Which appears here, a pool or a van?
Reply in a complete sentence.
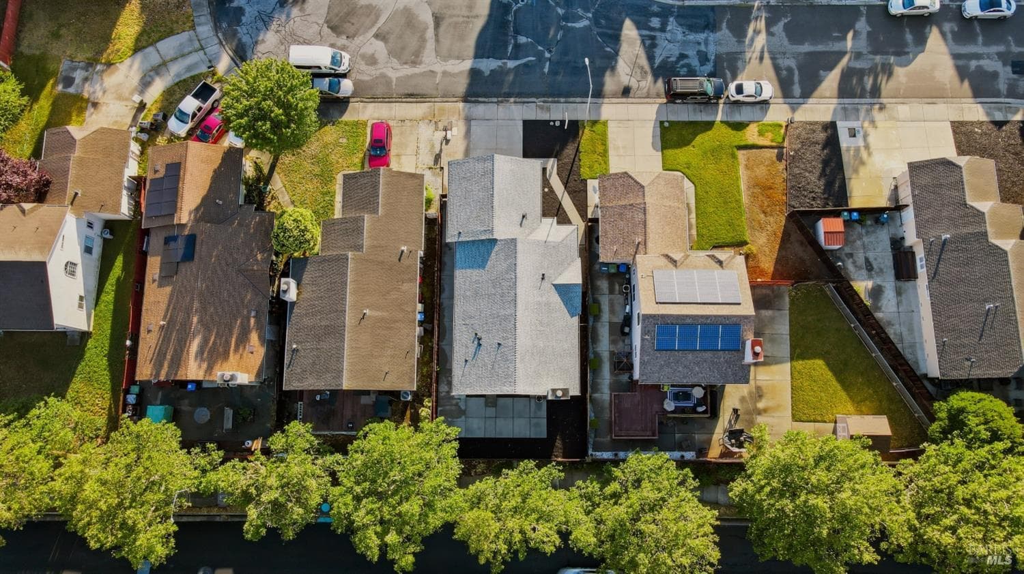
The image shows a van.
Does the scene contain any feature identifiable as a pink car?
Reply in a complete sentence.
Yes, there is a pink car in the image.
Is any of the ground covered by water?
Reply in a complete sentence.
No, there's no water in this view.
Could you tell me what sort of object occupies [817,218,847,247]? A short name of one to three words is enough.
shed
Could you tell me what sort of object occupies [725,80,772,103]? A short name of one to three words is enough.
car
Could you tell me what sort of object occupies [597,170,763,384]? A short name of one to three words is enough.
house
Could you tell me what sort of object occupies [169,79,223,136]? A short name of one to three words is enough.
truck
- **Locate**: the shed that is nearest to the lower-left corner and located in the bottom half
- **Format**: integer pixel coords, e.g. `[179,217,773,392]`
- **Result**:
[140,403,173,427]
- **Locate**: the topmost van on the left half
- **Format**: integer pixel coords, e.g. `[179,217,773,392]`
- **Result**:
[286,43,349,73]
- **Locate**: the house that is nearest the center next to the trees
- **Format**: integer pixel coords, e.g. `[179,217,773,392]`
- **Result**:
[446,154,582,400]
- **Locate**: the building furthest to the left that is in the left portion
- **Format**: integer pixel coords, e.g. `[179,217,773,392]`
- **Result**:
[0,126,141,343]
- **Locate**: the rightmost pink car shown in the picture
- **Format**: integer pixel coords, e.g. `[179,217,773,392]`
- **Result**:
[368,123,390,165]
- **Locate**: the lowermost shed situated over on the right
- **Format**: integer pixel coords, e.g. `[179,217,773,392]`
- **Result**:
[826,414,893,451]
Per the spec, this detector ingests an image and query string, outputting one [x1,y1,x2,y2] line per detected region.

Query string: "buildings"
[826,414,893,451]
[895,155,1024,379]
[597,170,763,384]
[446,154,582,400]
[135,141,279,383]
[280,168,426,391]
[140,403,173,427]
[817,218,847,247]
[0,126,141,343]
